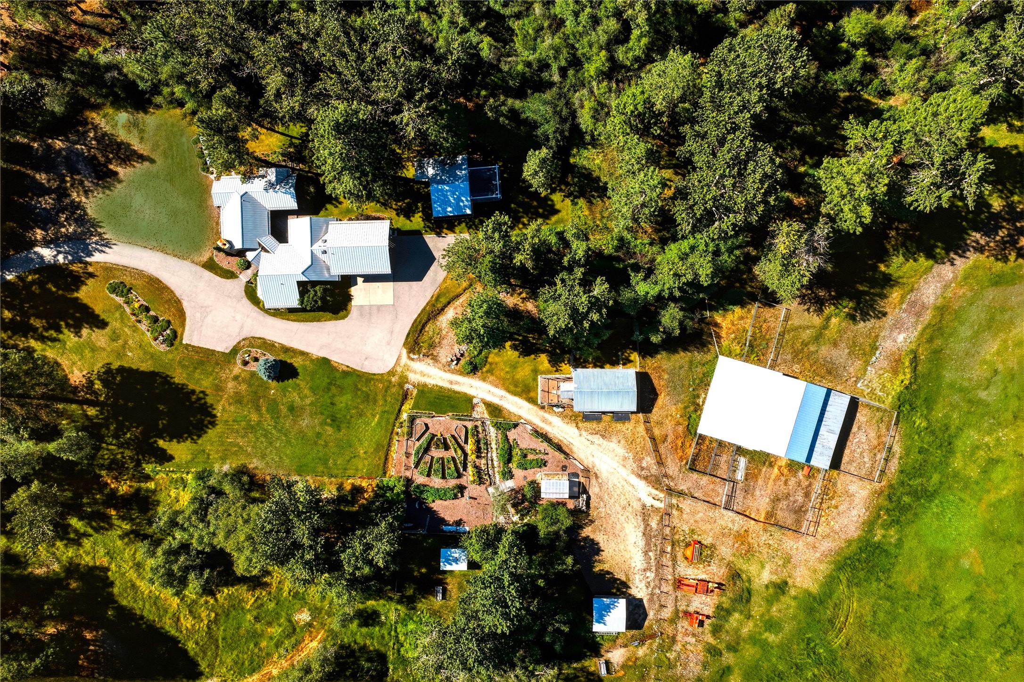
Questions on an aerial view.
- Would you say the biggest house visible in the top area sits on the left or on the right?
left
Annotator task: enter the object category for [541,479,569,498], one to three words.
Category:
greenhouse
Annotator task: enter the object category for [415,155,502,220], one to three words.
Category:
building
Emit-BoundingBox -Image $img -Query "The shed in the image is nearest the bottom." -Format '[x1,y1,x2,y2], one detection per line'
[592,595,626,632]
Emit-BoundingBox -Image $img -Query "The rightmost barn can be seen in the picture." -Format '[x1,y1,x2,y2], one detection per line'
[697,355,850,469]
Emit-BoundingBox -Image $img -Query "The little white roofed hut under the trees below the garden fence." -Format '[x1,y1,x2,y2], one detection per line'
[441,546,467,570]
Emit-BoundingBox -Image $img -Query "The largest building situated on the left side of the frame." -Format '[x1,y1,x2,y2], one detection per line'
[211,168,396,308]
